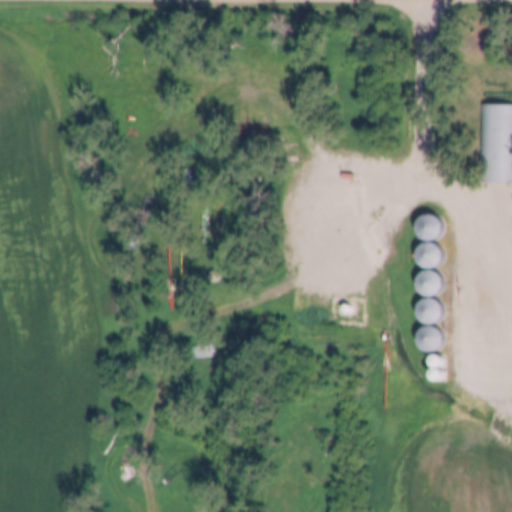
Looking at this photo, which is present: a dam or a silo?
silo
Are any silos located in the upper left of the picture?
No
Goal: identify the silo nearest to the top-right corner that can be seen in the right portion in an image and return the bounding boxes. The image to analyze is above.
[416,214,448,241]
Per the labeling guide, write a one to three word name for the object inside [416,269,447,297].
silo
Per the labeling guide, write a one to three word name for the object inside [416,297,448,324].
silo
